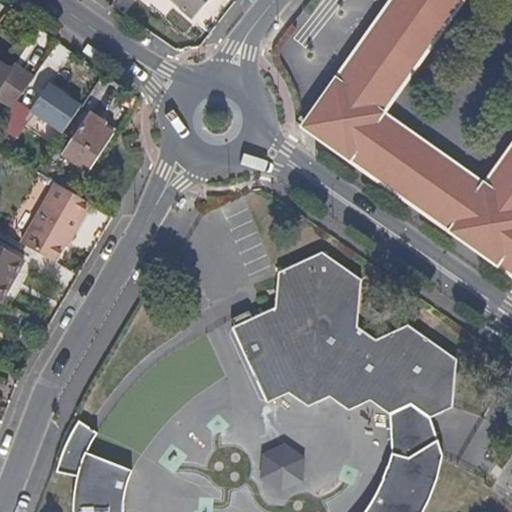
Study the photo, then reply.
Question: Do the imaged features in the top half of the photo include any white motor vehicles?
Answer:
Yes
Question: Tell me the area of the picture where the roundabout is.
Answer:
top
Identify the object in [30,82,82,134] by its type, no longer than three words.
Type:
house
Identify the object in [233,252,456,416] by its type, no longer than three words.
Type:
building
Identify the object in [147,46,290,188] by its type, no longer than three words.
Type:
roundabout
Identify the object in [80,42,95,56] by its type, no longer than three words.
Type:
car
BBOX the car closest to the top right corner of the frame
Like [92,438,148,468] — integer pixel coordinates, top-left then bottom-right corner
[353,194,376,214]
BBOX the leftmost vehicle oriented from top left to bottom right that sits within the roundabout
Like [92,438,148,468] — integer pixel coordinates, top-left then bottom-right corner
[166,110,189,138]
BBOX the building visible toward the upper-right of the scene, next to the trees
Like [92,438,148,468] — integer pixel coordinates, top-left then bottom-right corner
[302,0,512,278]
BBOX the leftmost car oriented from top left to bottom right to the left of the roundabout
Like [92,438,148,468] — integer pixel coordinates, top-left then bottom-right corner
[58,62,74,82]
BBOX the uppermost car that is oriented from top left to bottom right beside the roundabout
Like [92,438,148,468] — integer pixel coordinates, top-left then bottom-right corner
[130,64,150,82]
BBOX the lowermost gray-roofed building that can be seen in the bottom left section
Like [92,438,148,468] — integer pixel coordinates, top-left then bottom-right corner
[74,452,131,512]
